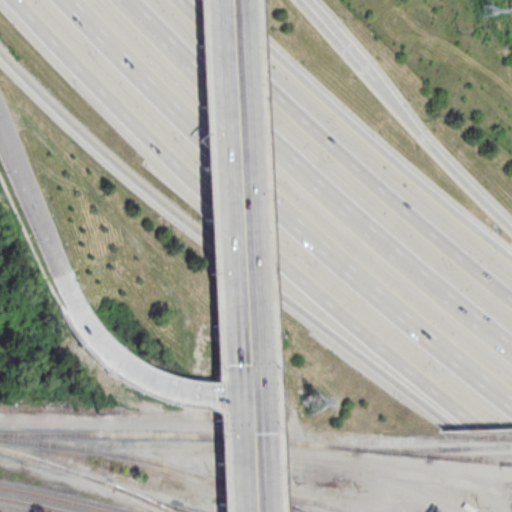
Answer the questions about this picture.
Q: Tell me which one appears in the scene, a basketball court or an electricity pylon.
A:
electricity pylon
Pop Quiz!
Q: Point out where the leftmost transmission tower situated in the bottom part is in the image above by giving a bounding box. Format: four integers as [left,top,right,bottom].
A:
[296,389,343,418]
